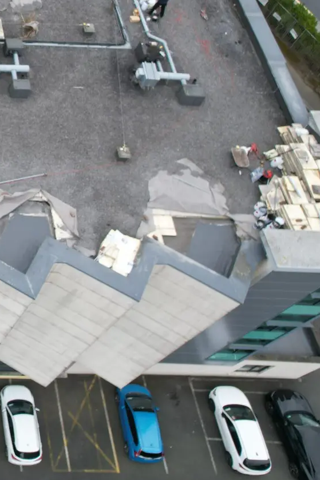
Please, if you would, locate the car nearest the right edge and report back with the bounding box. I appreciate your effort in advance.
[265,391,320,480]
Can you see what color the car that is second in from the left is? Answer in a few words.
blue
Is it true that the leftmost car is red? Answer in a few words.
No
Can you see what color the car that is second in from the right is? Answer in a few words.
white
